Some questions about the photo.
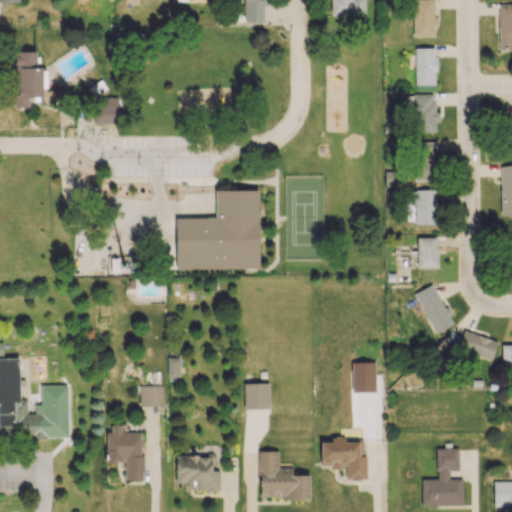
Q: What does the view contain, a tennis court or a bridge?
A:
tennis court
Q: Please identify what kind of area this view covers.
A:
residential area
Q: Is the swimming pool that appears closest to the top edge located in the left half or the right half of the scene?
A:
left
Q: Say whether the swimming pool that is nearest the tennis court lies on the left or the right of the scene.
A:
left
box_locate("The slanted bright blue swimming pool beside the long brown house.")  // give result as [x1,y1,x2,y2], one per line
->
[47,46,96,86]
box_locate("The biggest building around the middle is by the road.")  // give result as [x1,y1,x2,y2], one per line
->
[176,190,262,270]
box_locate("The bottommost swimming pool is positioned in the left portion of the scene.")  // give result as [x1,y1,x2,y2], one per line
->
[127,278,167,304]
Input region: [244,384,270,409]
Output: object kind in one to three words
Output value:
building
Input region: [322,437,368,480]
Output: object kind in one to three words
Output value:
house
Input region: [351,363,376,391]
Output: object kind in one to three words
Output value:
building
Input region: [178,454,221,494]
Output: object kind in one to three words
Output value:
house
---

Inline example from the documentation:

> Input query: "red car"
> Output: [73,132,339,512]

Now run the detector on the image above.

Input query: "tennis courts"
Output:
[286,175,324,262]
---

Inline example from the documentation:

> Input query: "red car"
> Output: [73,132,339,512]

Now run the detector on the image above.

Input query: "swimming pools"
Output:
[47,46,96,86]
[127,278,167,304]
